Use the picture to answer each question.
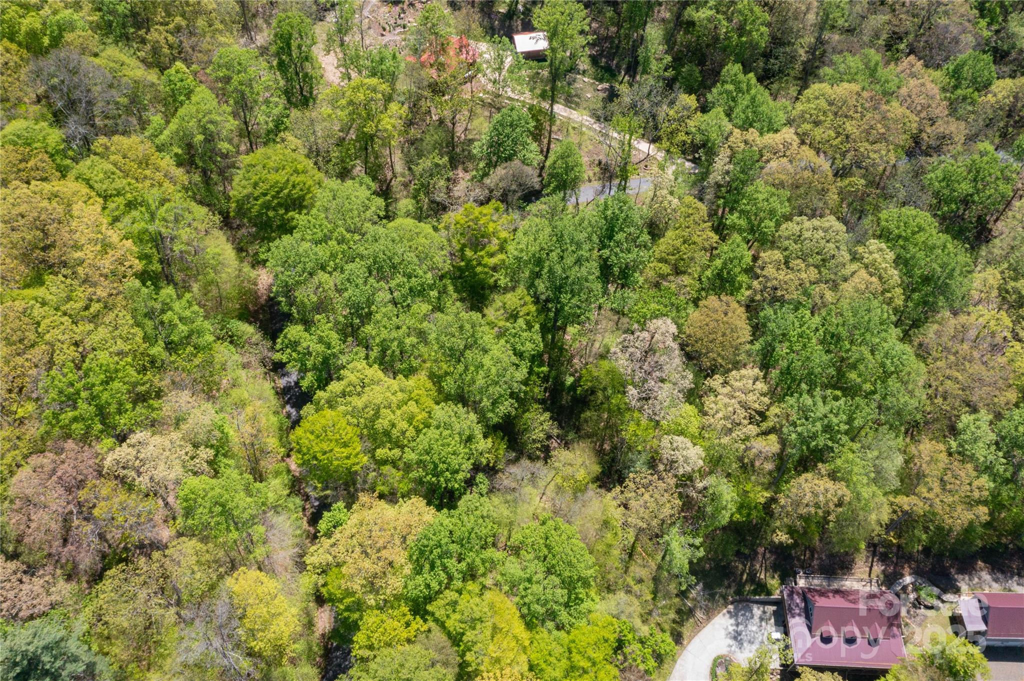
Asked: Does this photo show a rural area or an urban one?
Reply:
rural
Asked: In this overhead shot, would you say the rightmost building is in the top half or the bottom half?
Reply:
bottom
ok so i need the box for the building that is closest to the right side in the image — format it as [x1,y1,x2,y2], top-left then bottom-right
[935,591,1024,646]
